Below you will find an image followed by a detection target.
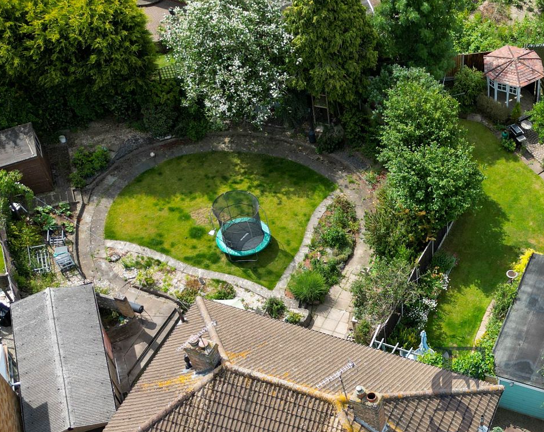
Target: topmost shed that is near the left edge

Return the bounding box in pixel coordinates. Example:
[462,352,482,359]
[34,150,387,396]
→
[0,131,49,208]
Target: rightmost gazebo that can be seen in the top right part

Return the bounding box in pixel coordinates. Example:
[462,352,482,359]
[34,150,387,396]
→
[477,49,538,114]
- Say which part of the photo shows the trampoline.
center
